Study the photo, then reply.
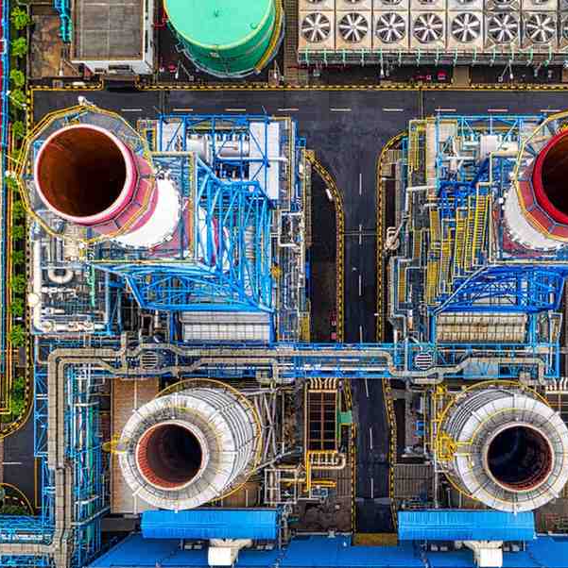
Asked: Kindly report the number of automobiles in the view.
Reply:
0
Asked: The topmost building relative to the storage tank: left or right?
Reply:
on the left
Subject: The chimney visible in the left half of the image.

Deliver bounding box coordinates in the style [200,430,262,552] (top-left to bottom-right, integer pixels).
[6,96,176,243]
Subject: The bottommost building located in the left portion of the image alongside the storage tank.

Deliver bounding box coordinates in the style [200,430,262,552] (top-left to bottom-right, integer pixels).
[88,111,314,343]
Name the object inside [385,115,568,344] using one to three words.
building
